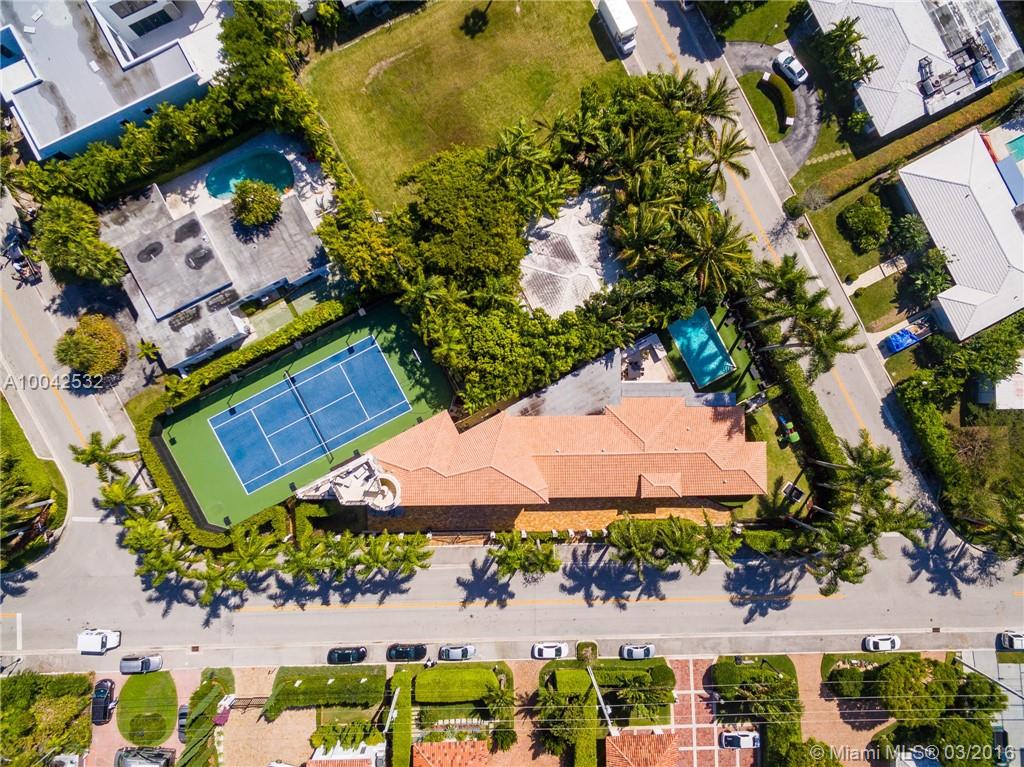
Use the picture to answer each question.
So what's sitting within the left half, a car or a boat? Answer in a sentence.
Visible within the left half is a car.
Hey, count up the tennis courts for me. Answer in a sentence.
Just 1 tennis court appears in this view.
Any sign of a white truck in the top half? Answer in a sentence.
Yes, in the top half there is a white truck.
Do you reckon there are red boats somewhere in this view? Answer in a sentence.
No, no red boat can be seen from above.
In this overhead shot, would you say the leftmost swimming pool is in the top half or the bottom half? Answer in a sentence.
The leftmost swimming pool sits in the top half of the picture.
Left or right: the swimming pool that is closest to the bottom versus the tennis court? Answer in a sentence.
To the right of the tennis court is where the swimming pool that is closest to the bottom appears.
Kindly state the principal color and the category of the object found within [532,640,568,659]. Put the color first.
white car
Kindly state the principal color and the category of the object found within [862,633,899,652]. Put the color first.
white car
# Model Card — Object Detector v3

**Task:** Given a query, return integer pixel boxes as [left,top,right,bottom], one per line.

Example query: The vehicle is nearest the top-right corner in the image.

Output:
[775,49,807,87]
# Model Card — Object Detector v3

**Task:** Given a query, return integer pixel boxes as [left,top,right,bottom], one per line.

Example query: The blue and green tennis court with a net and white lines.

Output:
[163,308,456,528]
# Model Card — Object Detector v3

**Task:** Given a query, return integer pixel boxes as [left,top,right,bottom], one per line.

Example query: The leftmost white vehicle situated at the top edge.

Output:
[592,0,643,66]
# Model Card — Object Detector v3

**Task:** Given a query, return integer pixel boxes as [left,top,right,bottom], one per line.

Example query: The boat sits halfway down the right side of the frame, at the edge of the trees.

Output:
[876,321,933,359]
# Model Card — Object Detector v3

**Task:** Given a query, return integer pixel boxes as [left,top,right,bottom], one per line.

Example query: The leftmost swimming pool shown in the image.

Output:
[204,146,297,203]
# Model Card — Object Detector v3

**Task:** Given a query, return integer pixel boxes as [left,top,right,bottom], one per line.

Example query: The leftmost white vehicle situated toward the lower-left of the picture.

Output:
[71,630,122,656]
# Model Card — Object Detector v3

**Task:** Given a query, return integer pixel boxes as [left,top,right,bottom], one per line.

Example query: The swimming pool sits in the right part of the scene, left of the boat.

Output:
[668,305,739,391]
